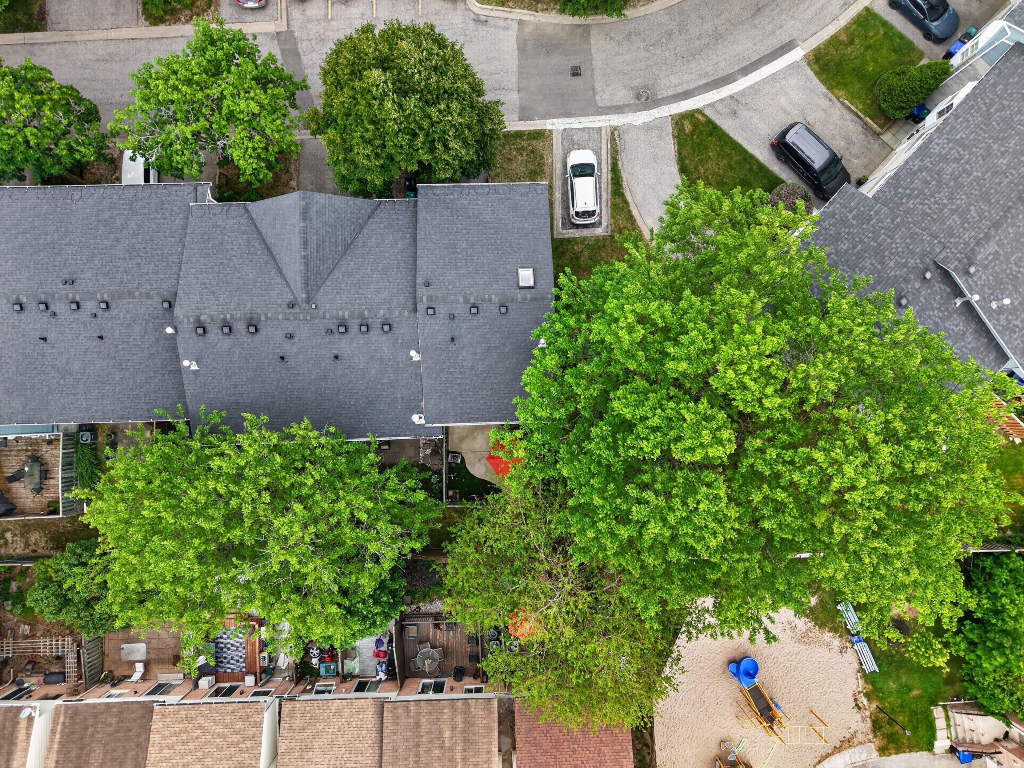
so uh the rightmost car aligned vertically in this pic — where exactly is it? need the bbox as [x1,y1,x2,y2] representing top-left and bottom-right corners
[564,149,602,226]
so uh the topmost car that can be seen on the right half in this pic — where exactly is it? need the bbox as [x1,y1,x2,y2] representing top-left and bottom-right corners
[888,0,964,45]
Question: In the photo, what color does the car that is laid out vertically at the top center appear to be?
white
